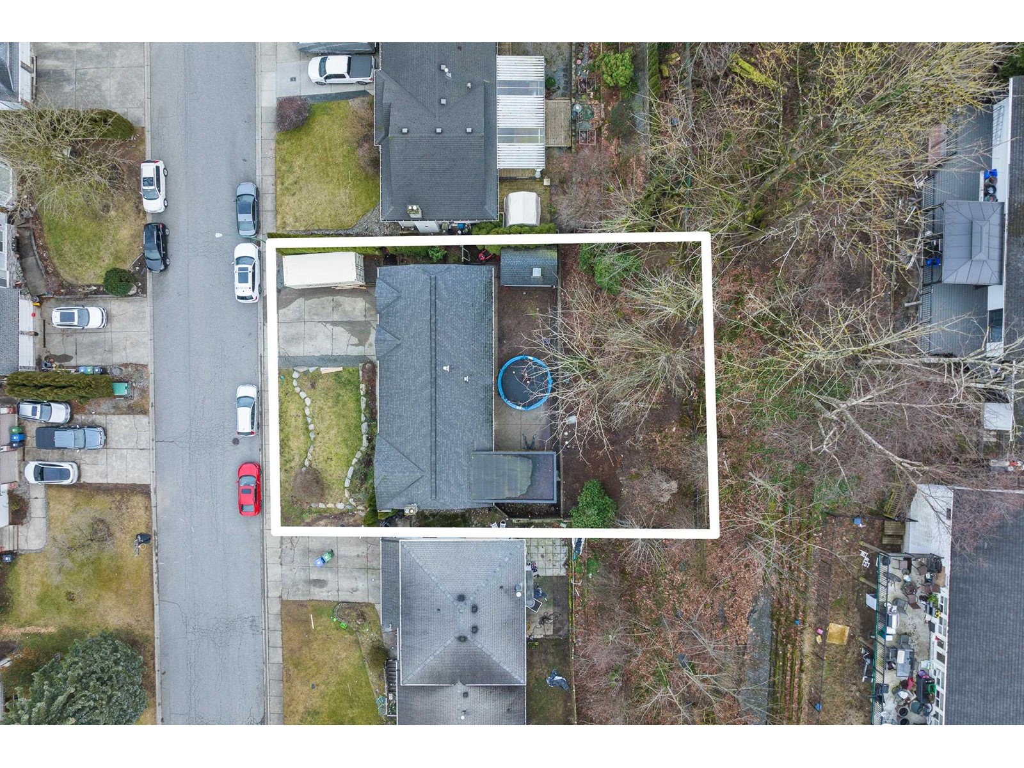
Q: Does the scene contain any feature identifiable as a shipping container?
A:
Yes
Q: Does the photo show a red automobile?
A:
Yes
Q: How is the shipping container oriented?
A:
from left to right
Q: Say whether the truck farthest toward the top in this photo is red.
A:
No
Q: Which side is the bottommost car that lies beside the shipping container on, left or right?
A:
left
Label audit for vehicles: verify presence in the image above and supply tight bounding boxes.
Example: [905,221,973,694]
[236,463,264,515]
[141,223,172,274]
[233,183,262,239]
[138,161,169,214]
[19,401,75,426]
[309,53,376,86]
[27,460,83,486]
[233,385,261,436]
[232,245,262,303]
[36,425,107,452]
[52,305,110,331]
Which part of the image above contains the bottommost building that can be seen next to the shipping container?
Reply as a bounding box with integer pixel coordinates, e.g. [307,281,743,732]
[374,265,494,512]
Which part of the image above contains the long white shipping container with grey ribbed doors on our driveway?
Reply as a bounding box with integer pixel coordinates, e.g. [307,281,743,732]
[283,252,363,289]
